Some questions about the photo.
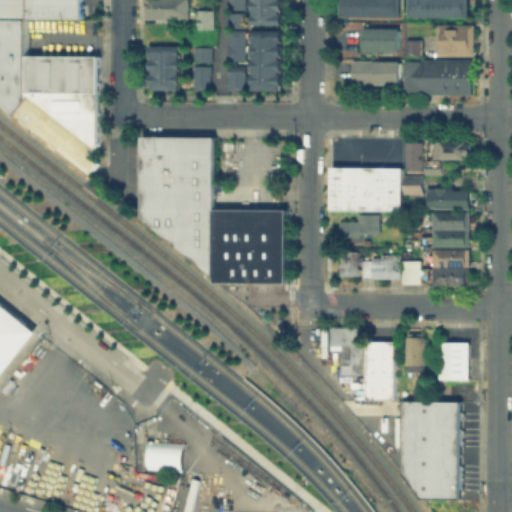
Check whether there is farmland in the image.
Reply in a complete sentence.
No, the picture contains no farmland.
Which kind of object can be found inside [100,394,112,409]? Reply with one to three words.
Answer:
vehicle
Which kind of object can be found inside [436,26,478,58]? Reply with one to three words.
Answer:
house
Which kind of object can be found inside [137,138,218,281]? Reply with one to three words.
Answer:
building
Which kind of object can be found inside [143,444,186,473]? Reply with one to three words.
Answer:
shed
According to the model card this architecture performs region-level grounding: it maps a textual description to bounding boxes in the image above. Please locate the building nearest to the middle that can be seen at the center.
[212,210,288,283]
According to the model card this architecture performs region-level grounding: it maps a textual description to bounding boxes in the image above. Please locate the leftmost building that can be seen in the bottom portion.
[0,300,38,380]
